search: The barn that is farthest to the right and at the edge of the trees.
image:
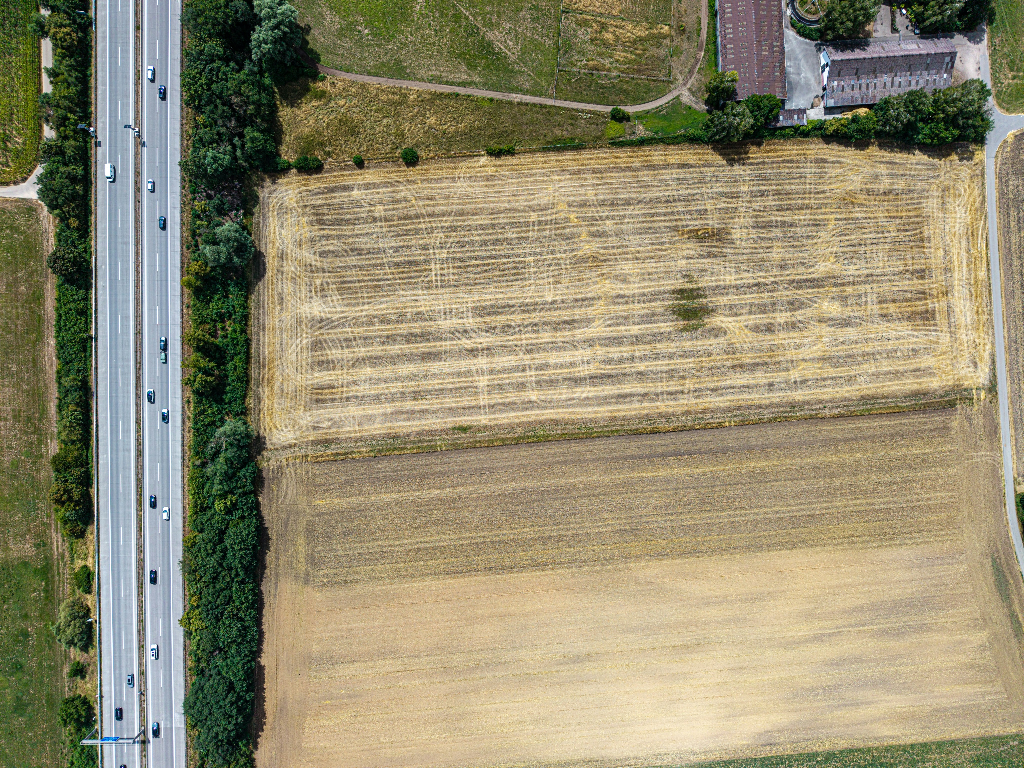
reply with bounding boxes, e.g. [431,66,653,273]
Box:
[818,39,957,111]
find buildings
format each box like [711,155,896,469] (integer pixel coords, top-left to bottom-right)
[774,109,807,128]
[714,0,788,104]
[818,39,957,111]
